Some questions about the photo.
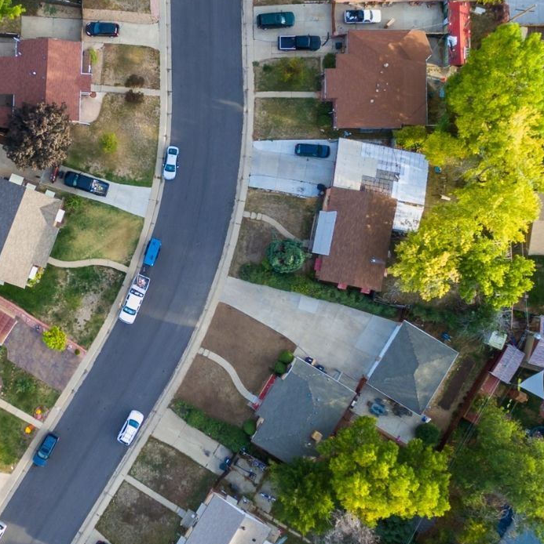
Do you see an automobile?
Yes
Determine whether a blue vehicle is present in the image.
Yes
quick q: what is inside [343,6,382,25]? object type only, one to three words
vehicle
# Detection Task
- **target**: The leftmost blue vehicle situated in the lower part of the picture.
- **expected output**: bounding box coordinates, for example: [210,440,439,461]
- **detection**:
[32,430,61,469]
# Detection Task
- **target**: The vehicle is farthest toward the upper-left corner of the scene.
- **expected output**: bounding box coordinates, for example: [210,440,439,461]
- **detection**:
[86,19,119,37]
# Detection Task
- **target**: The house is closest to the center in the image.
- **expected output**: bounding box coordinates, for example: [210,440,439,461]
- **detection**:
[311,185,395,294]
